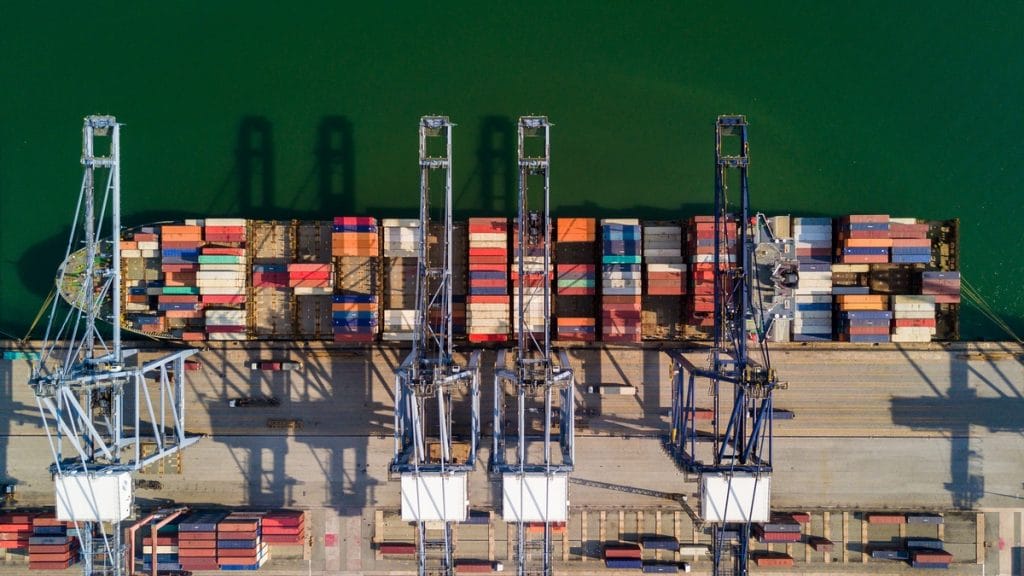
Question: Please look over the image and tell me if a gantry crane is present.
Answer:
Yes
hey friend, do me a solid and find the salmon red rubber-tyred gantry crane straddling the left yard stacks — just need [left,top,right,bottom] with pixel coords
[132,512,183,576]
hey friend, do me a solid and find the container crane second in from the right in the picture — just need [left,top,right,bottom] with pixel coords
[489,115,575,576]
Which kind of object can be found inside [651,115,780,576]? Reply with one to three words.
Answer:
container crane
